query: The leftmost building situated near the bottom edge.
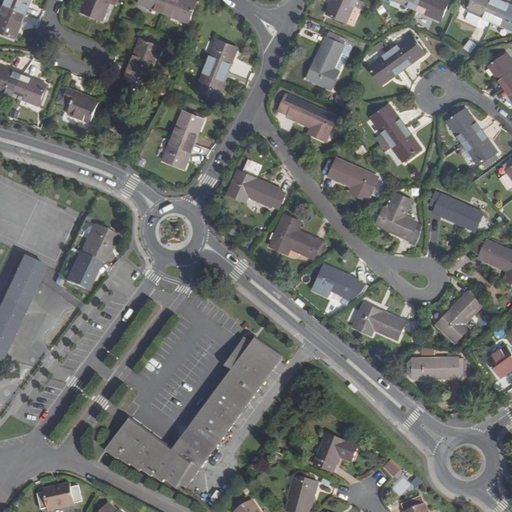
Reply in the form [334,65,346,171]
[36,482,82,512]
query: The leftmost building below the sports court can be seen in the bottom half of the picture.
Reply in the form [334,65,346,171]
[0,253,49,366]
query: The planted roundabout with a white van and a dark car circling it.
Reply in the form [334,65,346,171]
[140,198,207,265]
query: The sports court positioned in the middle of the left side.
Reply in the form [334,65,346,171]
[0,179,76,262]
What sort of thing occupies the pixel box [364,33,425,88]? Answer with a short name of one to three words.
house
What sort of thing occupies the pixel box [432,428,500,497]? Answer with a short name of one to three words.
roundabout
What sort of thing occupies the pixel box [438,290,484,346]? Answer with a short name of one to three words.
house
